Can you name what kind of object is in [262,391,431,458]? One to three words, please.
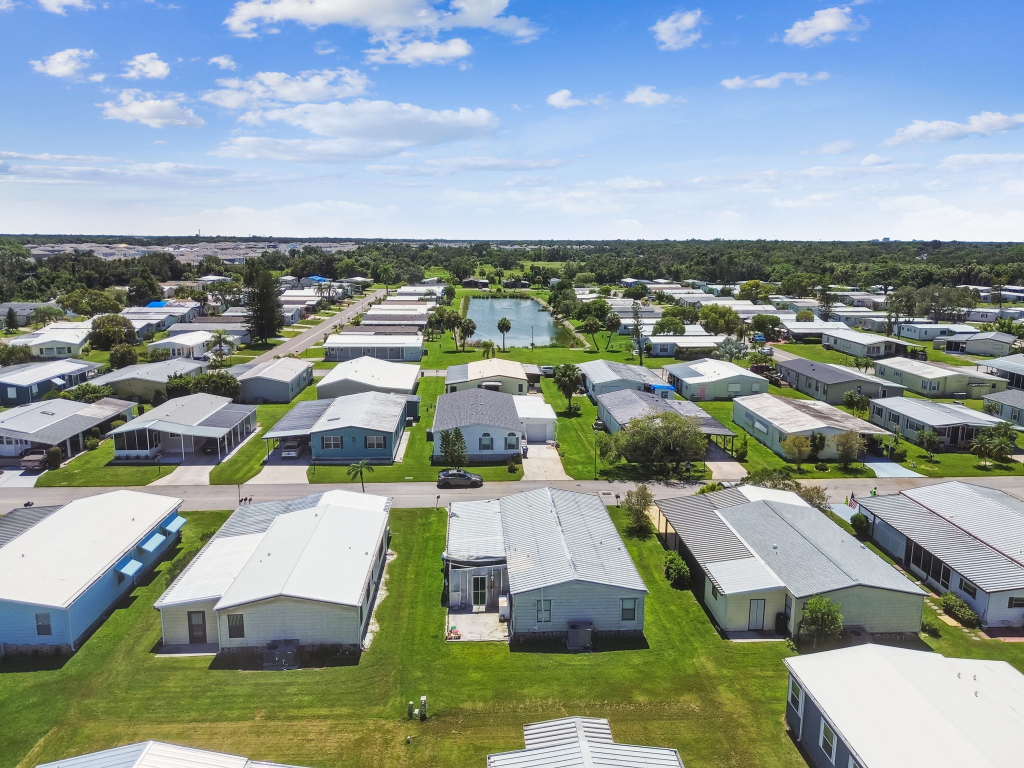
house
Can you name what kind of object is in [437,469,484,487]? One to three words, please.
car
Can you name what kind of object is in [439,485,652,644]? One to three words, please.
house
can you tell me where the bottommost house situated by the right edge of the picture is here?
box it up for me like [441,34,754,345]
[781,643,1024,768]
